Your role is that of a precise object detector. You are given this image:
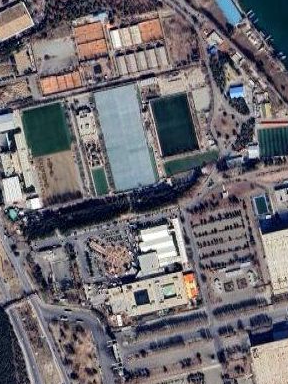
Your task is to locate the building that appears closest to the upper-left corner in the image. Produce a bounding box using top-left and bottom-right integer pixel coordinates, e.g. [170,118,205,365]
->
[0,4,34,42]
